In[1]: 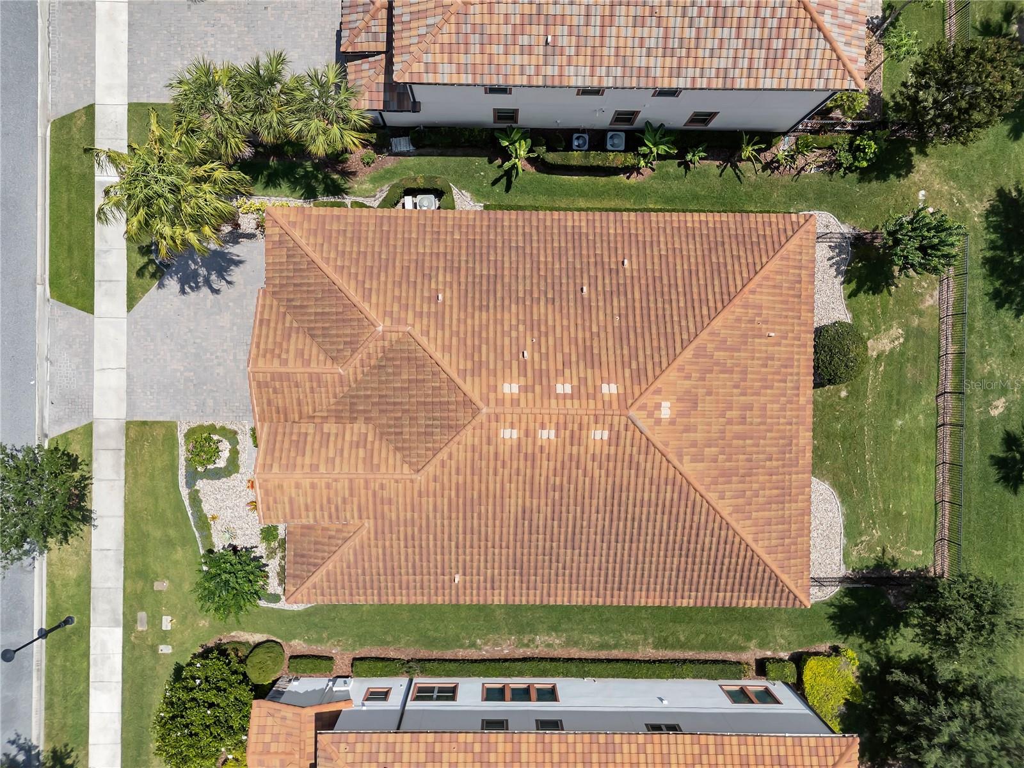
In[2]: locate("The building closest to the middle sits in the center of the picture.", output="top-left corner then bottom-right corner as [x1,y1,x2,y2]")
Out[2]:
[246,207,817,610]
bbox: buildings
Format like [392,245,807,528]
[242,673,861,768]
[339,0,867,137]
[246,207,817,610]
